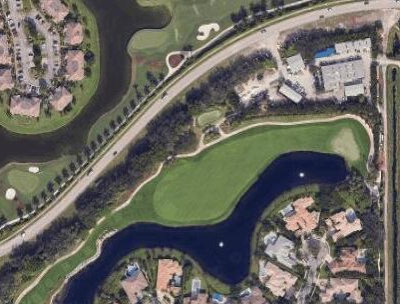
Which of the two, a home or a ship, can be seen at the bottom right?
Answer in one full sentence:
Visible at the bottom right is a home.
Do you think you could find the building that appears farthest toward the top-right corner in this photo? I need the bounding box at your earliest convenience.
[336,38,371,54]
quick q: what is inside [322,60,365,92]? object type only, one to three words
building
